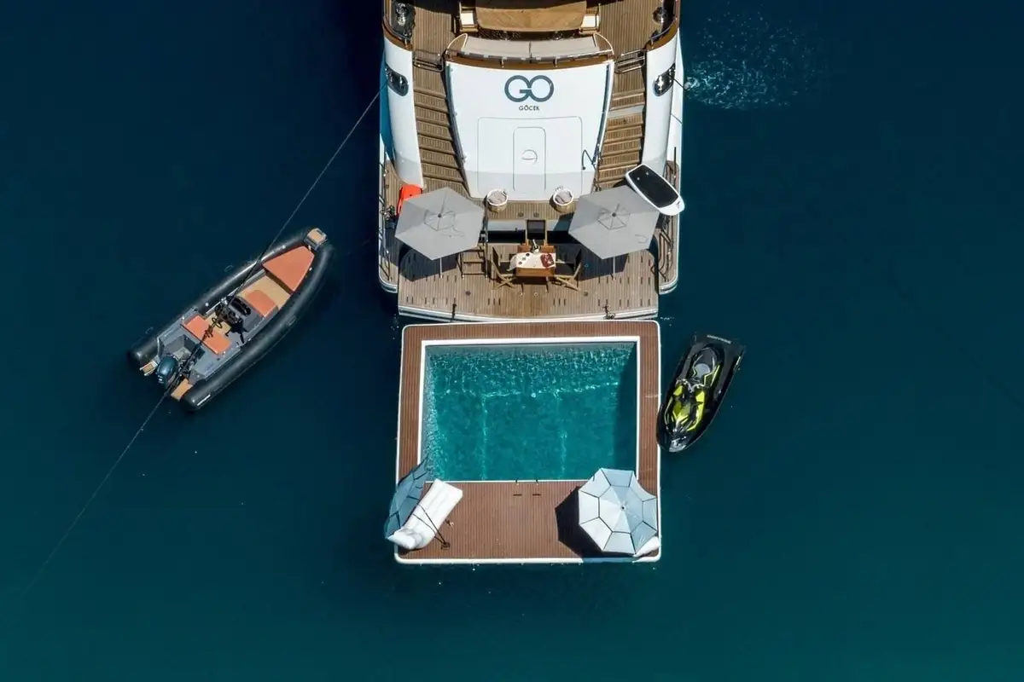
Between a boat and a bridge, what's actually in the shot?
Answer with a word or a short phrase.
boat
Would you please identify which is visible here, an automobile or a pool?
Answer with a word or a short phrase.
pool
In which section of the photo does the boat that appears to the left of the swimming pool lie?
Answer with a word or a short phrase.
left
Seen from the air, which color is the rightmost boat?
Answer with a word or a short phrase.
black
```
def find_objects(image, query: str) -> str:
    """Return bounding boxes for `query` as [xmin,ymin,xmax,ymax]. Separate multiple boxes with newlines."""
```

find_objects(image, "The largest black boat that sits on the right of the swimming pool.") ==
[660,334,744,453]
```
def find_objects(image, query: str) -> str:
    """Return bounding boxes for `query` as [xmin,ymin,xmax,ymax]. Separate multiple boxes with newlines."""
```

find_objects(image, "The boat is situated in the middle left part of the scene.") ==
[125,226,336,411]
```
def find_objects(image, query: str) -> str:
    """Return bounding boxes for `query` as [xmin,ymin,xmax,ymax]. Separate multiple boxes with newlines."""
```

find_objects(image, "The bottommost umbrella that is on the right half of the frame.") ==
[577,466,659,556]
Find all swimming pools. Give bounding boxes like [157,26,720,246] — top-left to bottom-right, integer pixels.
[396,320,661,566]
